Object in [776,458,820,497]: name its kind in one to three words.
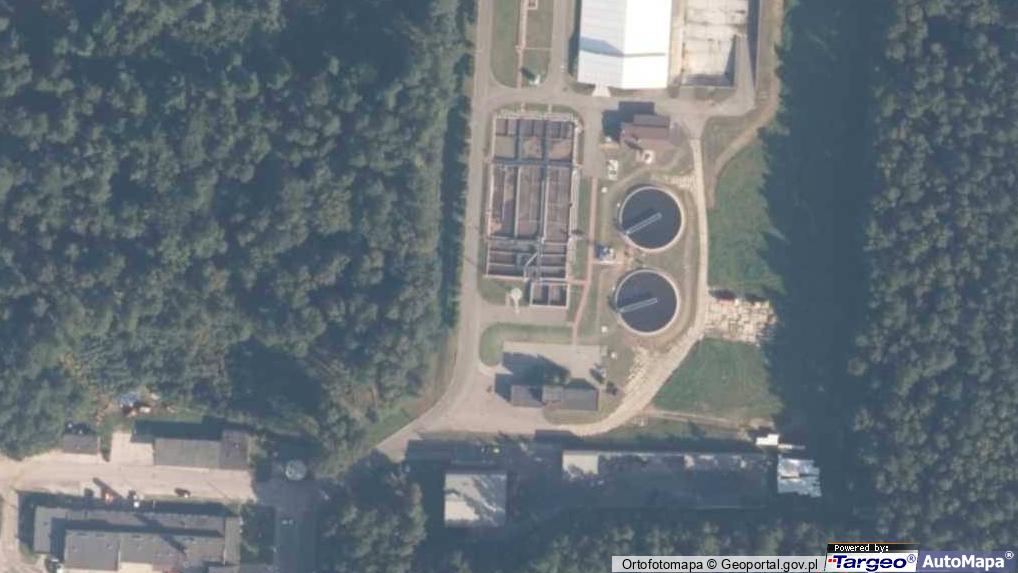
shed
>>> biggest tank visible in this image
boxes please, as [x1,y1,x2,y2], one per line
[486,109,576,281]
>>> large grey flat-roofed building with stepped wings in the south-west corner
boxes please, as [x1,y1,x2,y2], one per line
[34,506,246,573]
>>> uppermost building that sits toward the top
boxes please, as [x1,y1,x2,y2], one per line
[577,0,671,90]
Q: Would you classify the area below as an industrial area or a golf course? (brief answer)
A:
industrial area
